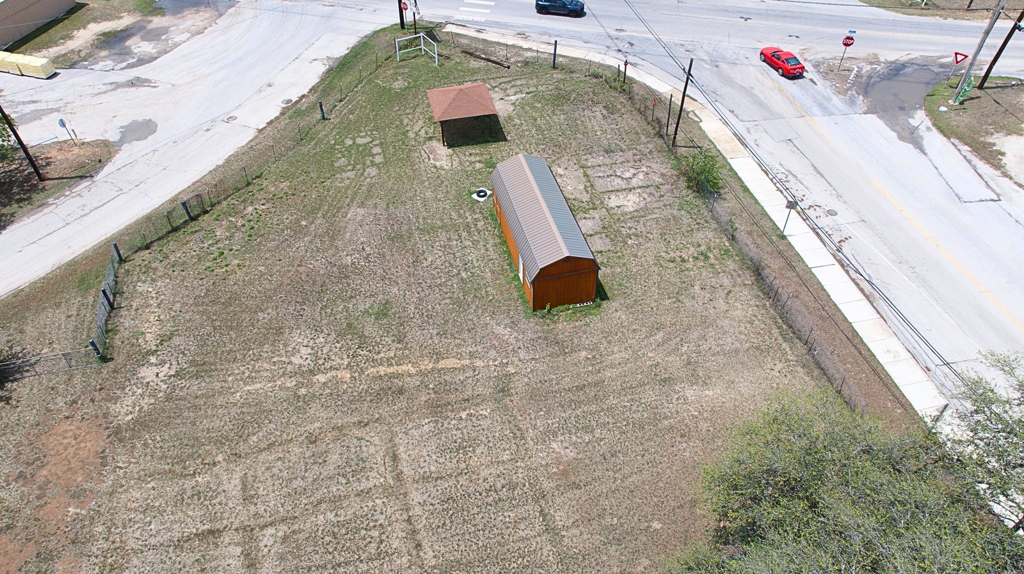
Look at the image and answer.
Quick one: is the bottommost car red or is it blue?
red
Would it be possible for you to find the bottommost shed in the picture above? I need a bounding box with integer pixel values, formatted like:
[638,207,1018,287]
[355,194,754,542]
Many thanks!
[492,151,603,310]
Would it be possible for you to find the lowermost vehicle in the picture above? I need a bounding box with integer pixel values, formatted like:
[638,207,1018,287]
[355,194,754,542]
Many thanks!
[757,44,809,78]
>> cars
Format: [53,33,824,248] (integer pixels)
[757,44,809,78]
[534,0,587,17]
